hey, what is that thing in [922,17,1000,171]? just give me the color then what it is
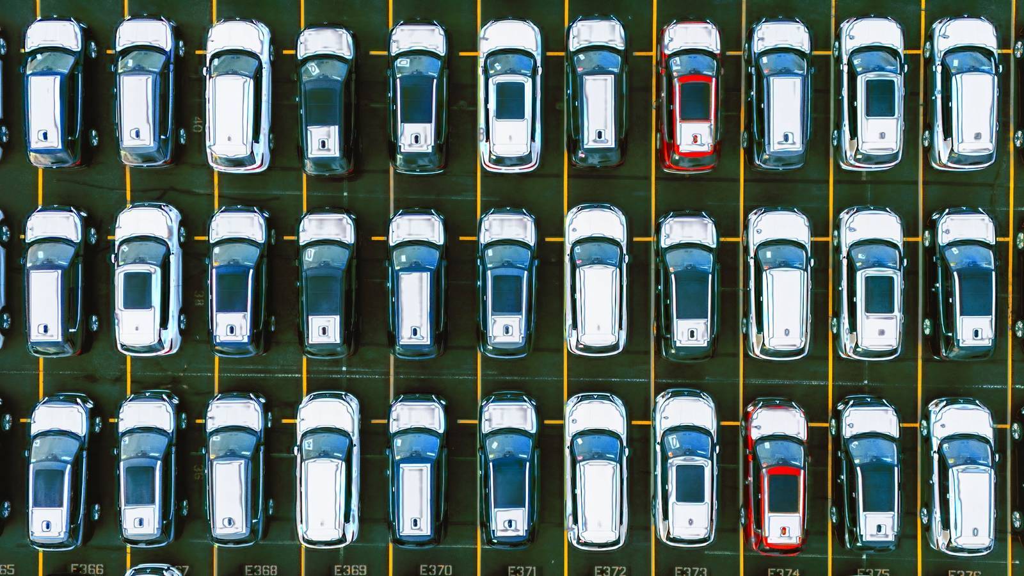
white car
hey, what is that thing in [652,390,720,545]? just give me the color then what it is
white car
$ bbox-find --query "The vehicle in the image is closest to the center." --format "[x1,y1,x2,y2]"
[476,206,540,360]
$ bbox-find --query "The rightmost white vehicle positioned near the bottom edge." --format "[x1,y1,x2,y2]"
[922,398,998,553]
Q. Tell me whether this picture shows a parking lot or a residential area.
parking lot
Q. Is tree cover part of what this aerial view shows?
No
